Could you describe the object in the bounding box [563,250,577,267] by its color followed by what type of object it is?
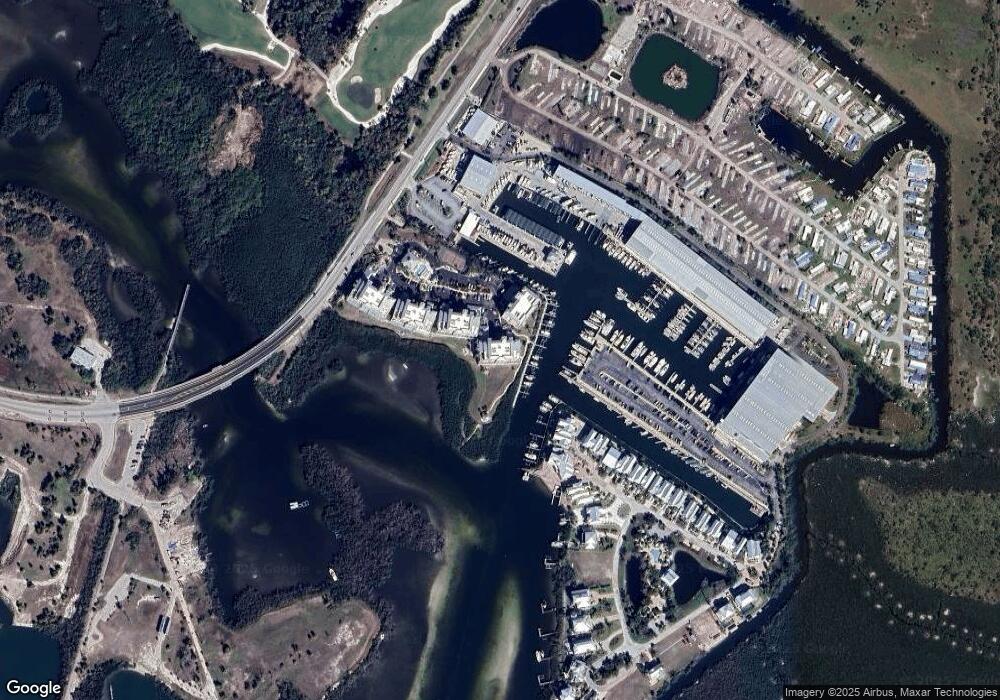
white boat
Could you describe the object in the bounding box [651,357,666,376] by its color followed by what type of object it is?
white boat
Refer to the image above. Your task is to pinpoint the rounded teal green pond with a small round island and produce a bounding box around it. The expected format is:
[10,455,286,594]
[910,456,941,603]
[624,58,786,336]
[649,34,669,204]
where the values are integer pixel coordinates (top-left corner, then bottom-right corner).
[632,34,720,122]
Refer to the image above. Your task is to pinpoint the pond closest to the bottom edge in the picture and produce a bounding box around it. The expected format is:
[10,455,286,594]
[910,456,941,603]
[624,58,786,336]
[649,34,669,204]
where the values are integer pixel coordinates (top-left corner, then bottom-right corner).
[104,670,174,700]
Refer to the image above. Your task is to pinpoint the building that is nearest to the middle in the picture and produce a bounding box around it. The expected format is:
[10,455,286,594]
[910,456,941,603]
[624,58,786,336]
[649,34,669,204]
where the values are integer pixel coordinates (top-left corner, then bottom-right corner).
[479,335,524,366]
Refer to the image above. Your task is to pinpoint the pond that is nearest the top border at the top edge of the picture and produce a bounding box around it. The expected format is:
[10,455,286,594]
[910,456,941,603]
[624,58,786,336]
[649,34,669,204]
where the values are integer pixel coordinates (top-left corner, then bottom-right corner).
[517,0,603,61]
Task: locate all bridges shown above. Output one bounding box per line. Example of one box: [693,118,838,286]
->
[115,318,301,418]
